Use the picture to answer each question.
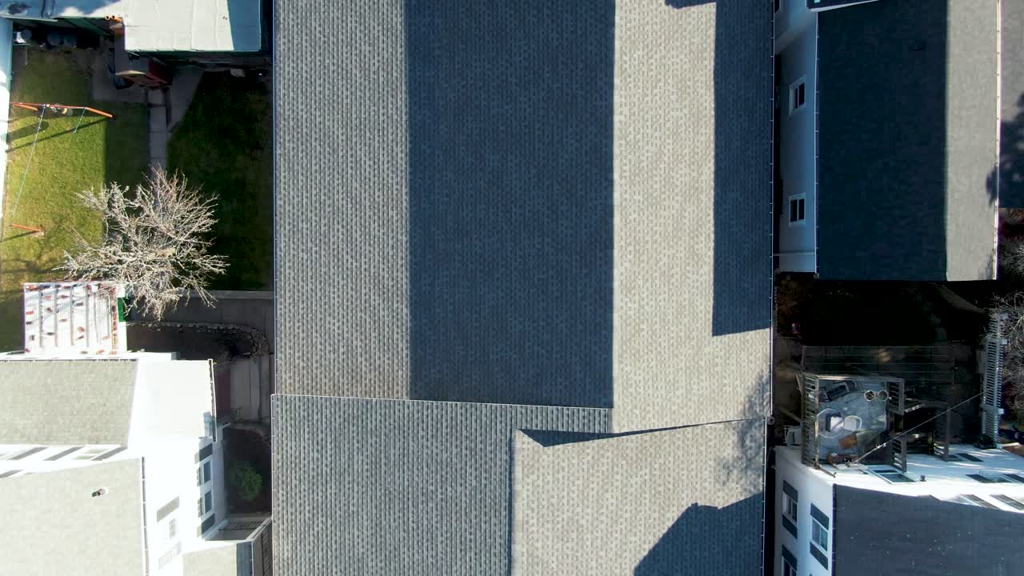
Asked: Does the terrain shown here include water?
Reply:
No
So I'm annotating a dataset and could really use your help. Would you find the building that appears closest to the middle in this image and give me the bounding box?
[270,0,775,576]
